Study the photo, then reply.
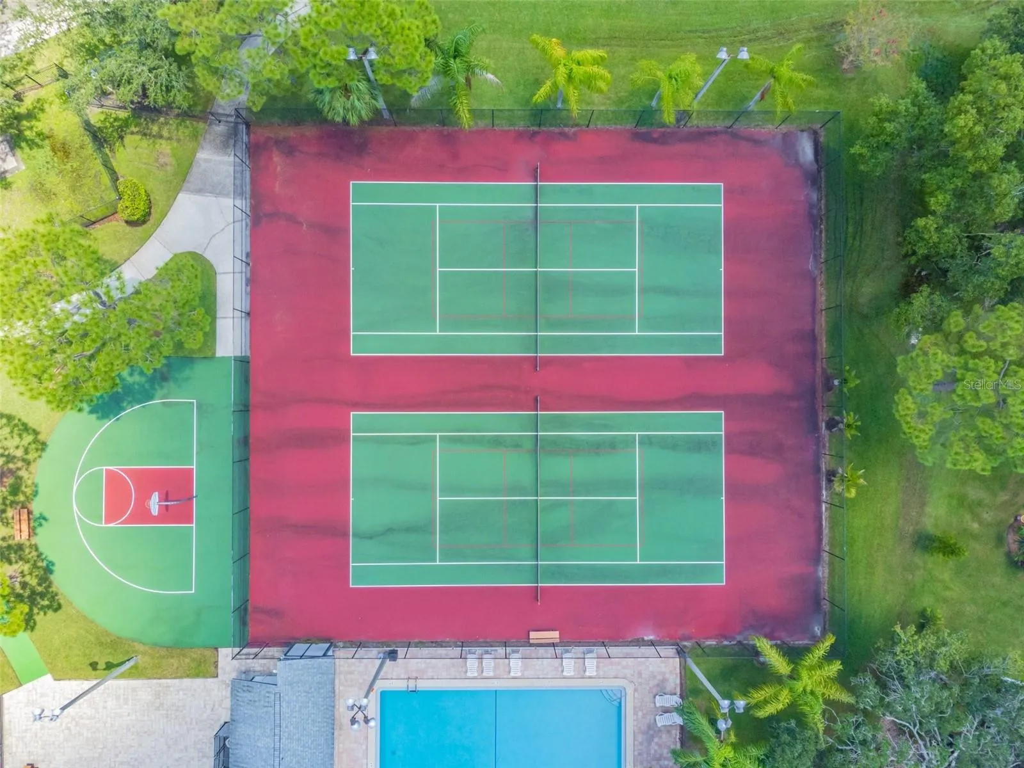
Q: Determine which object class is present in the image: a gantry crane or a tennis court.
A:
tennis court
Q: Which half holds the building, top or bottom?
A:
bottom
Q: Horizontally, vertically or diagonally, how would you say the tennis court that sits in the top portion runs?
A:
horizontally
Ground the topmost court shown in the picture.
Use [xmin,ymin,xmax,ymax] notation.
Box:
[350,182,724,355]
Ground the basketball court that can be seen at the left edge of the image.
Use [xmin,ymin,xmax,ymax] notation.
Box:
[36,356,249,649]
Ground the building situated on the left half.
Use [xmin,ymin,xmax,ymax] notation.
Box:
[226,644,335,768]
